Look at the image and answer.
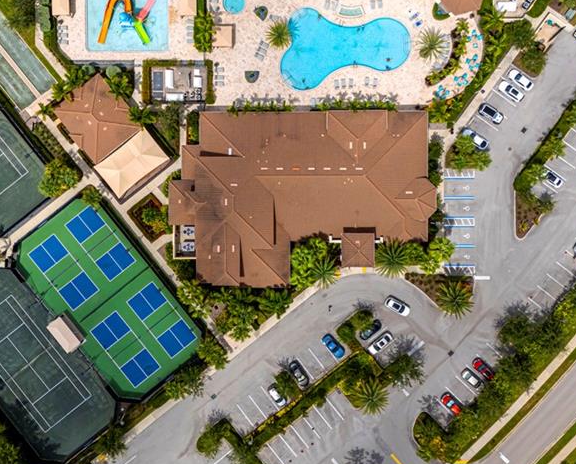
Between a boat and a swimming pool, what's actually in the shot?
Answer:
swimming pool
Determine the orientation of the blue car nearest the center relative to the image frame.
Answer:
at an angle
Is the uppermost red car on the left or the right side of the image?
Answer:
right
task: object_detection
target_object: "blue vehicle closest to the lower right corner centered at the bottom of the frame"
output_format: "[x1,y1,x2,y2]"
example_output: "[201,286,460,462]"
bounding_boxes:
[322,333,345,358]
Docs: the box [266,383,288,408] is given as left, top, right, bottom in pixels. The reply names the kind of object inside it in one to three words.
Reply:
car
